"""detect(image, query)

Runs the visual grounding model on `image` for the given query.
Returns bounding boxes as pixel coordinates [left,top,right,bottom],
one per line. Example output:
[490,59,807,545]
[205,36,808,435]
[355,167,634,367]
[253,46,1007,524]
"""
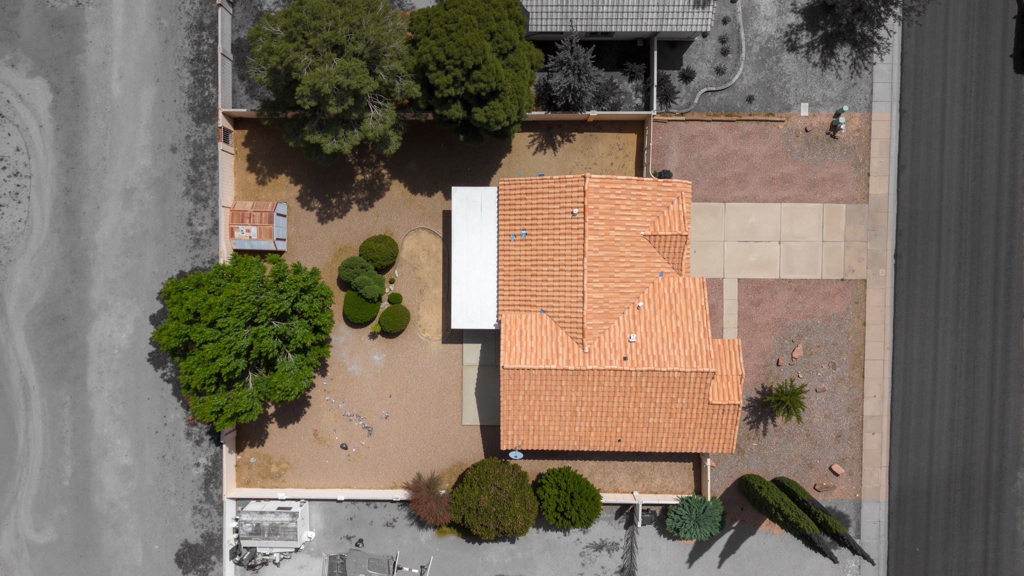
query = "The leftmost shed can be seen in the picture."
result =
[229,201,286,250]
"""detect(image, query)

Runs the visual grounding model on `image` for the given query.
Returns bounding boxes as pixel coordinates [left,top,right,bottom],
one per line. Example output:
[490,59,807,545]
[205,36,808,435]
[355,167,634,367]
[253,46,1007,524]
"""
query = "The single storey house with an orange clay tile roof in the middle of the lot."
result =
[497,174,745,453]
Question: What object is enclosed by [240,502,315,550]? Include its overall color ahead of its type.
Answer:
white vehicle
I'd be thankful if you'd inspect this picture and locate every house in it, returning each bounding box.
[523,0,714,43]
[497,174,745,453]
